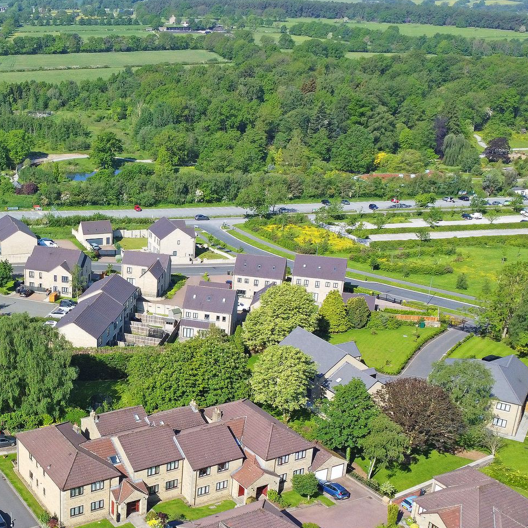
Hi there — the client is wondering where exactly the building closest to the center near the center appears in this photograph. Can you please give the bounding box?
[232,253,286,293]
